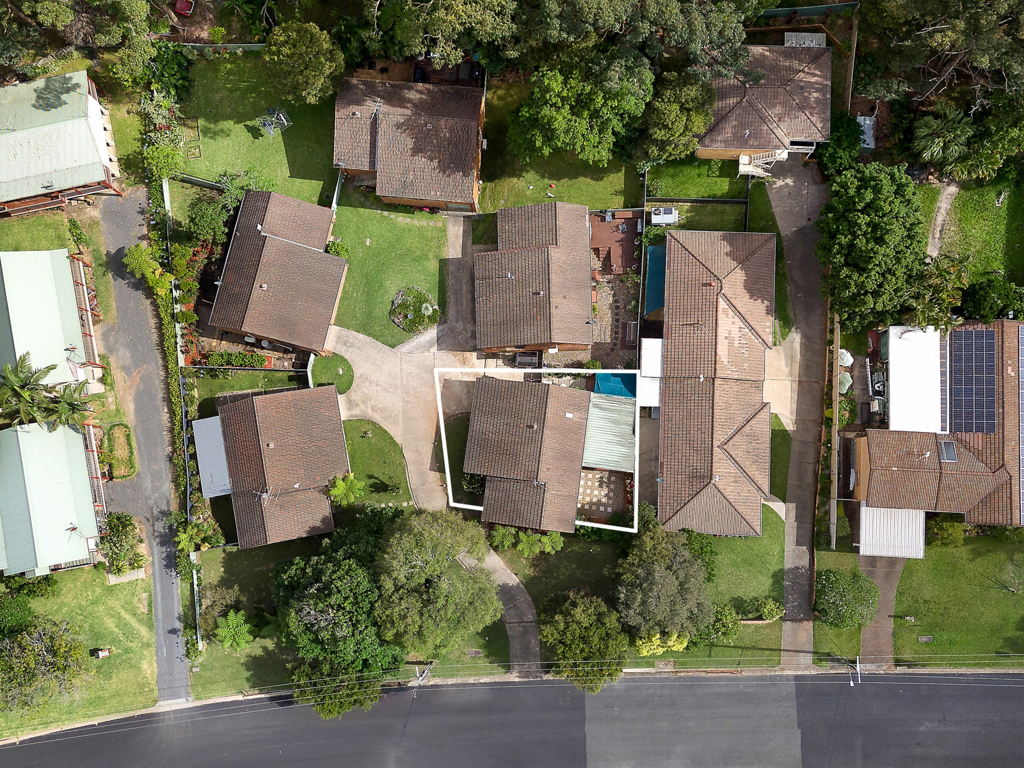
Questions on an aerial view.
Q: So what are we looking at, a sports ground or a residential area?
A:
residential area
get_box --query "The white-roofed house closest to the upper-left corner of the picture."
[0,69,126,225]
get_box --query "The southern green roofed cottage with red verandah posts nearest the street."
[0,421,121,580]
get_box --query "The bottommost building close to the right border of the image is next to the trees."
[849,319,1024,559]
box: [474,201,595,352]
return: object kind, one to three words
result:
house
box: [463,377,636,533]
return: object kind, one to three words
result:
house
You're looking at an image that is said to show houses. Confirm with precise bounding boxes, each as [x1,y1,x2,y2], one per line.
[849,319,1024,559]
[333,76,486,212]
[0,69,126,225]
[638,230,777,537]
[463,377,636,533]
[0,248,113,388]
[208,191,348,352]
[192,385,352,549]
[474,201,595,352]
[0,421,121,580]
